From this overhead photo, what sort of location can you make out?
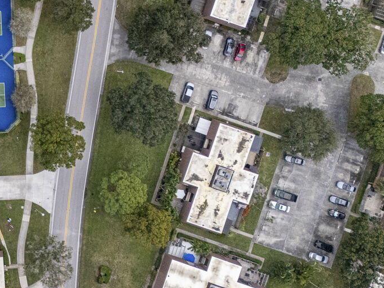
residential area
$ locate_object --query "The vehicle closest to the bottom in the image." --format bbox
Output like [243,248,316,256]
[308,252,327,264]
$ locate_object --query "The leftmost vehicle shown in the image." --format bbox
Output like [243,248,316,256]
[181,81,194,103]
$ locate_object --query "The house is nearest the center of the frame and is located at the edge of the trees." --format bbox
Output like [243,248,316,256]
[162,115,270,237]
